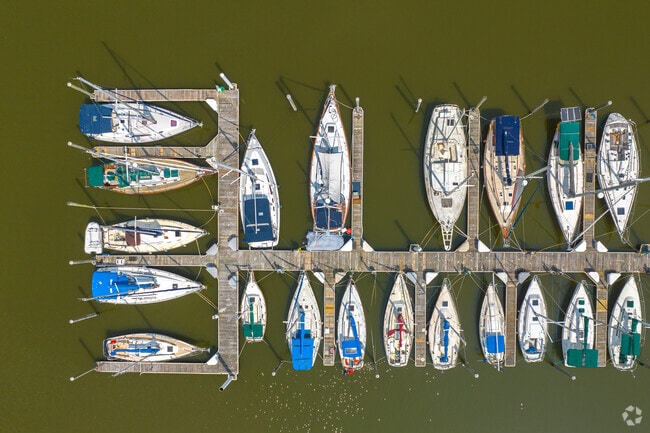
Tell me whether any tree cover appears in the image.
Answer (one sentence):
No, the picture contains no tree cover.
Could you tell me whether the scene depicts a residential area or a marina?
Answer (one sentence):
The area seen from above is a marina.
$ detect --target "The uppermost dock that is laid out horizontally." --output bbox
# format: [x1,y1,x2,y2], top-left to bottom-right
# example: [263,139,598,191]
[95,89,217,102]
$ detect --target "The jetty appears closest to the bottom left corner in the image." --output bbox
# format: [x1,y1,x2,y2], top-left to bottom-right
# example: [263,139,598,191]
[96,361,217,374]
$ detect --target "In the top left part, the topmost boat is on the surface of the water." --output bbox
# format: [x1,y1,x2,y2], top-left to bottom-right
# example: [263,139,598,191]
[71,75,201,142]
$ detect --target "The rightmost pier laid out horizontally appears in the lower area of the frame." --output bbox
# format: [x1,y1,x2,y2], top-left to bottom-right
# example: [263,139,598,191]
[239,250,650,272]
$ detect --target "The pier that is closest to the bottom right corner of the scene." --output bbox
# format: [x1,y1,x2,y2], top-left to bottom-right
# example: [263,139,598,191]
[595,272,608,368]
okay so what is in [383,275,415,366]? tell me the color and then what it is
white boat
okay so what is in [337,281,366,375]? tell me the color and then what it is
white boat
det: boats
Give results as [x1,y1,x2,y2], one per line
[228,272,267,346]
[211,129,278,248]
[517,276,592,363]
[304,230,347,251]
[309,85,350,231]
[429,283,468,370]
[425,103,475,250]
[281,273,321,370]
[560,282,650,369]
[383,275,415,366]
[71,75,201,142]
[485,115,553,247]
[85,223,102,250]
[550,109,650,248]
[479,272,508,371]
[95,218,206,253]
[337,281,366,375]
[79,150,219,192]
[103,334,209,377]
[74,266,206,304]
